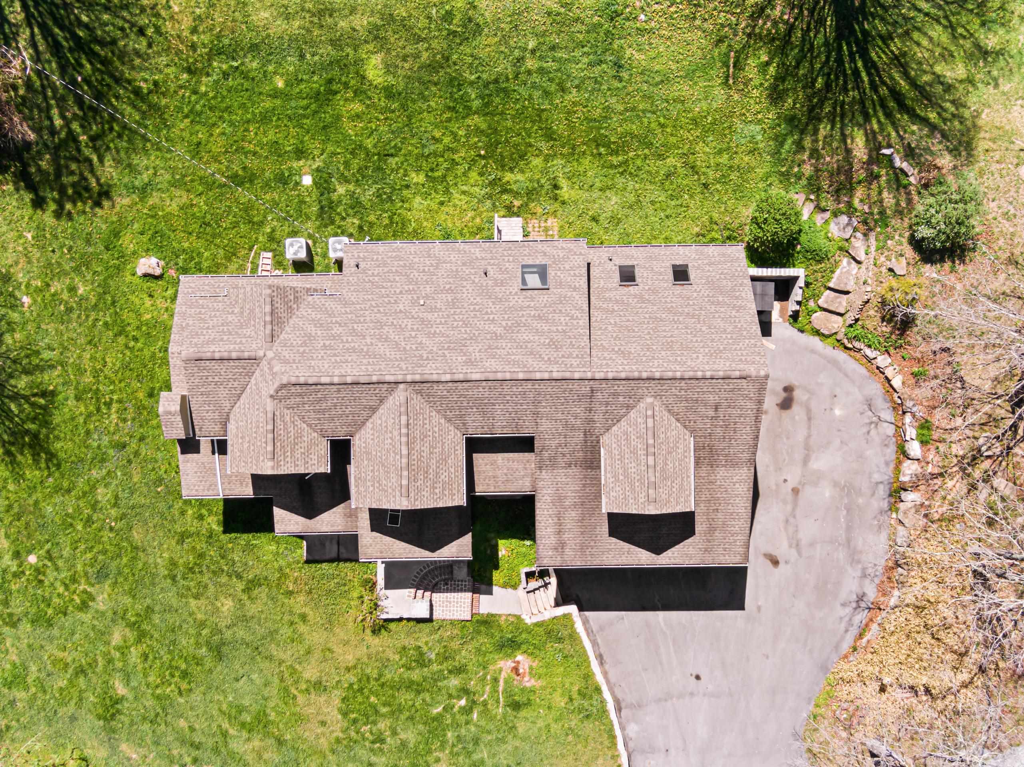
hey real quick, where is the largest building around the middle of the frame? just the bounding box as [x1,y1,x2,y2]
[159,236,769,567]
